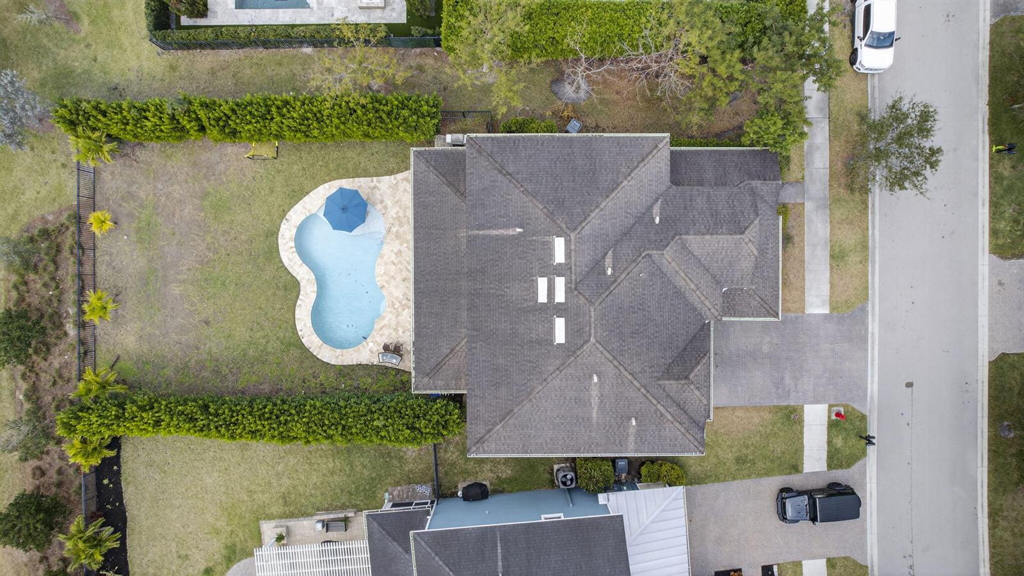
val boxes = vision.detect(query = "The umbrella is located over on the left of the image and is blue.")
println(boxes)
[324,187,368,233]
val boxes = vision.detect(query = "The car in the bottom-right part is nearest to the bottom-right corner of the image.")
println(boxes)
[776,481,862,526]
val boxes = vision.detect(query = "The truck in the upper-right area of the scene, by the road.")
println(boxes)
[848,0,901,75]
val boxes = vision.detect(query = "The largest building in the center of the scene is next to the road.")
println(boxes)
[410,132,784,458]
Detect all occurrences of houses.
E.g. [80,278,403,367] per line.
[410,132,784,458]
[363,481,692,576]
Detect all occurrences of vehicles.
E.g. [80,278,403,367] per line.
[848,0,901,75]
[776,481,862,526]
